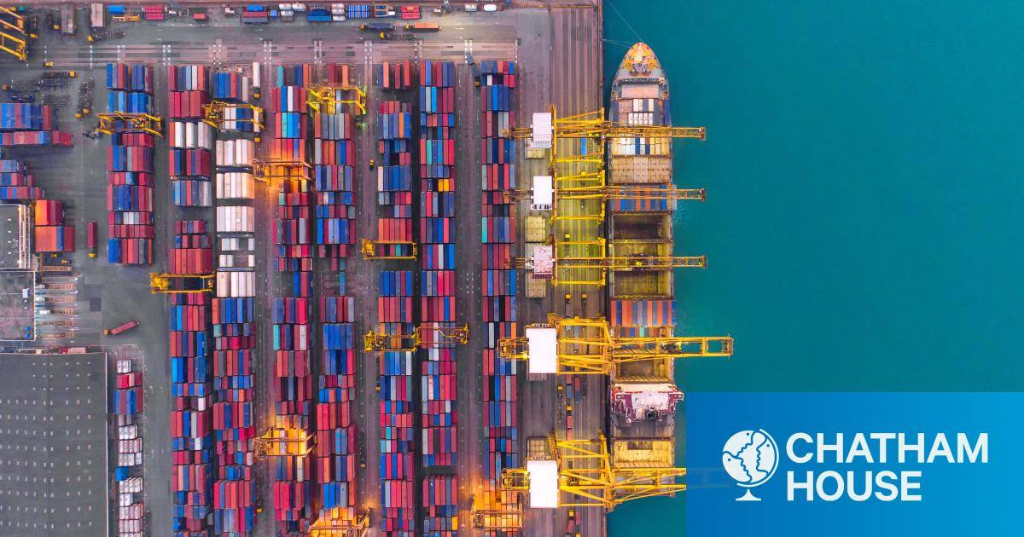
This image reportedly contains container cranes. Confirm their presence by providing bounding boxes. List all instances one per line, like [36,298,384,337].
[495,313,736,380]
[468,498,526,531]
[497,106,706,167]
[362,239,422,263]
[310,513,369,537]
[0,4,26,37]
[251,158,316,184]
[413,321,469,346]
[155,271,220,294]
[200,101,267,130]
[304,84,366,113]
[497,434,737,514]
[362,329,423,354]
[93,111,162,139]
[497,169,707,226]
[498,235,707,289]
[254,428,319,459]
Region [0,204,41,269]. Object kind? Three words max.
building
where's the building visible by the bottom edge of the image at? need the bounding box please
[0,351,120,537]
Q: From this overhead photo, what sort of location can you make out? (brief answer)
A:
port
